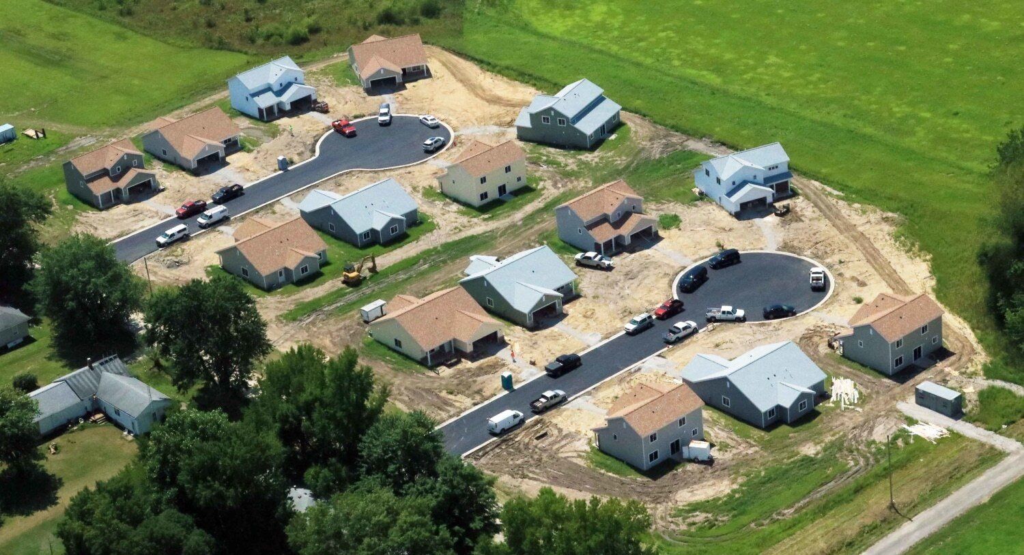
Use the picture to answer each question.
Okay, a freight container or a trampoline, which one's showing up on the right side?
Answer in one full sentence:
It is a freight container that can be seen on the right side.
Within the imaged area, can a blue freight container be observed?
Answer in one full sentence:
No, there isn't any blue freight container down there.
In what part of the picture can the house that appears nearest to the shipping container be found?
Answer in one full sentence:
The house that appears nearest to the shipping container is in the right part of the image.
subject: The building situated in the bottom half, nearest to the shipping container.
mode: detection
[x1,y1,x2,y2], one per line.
[835,293,944,375]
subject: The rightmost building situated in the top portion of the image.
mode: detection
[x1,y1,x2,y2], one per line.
[693,142,795,216]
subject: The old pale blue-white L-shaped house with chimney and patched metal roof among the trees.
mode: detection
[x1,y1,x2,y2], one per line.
[33,354,174,435]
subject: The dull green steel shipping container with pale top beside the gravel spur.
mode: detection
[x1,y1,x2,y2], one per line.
[916,381,962,416]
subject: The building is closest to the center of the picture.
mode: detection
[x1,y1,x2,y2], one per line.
[458,245,577,326]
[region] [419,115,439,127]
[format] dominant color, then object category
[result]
white vehicle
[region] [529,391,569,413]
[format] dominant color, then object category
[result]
gray truck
